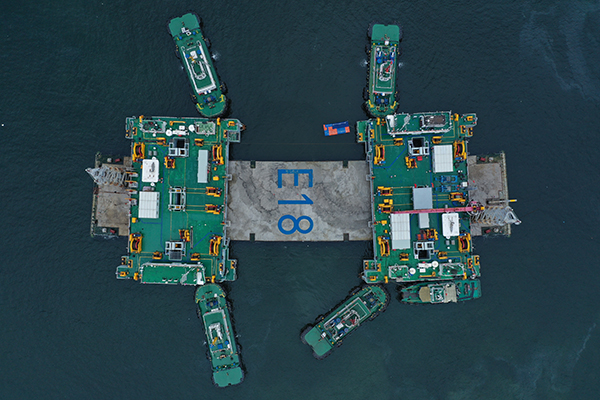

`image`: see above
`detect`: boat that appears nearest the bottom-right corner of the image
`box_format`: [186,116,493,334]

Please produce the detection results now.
[400,279,482,305]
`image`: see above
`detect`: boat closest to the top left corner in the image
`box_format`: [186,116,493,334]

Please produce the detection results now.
[166,11,231,118]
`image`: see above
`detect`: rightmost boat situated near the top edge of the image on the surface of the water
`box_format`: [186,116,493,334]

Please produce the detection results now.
[363,20,404,118]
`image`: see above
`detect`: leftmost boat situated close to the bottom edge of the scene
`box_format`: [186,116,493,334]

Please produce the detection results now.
[195,282,248,392]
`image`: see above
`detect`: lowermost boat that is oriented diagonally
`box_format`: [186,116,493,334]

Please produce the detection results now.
[298,281,391,361]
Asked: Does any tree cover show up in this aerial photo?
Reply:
No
